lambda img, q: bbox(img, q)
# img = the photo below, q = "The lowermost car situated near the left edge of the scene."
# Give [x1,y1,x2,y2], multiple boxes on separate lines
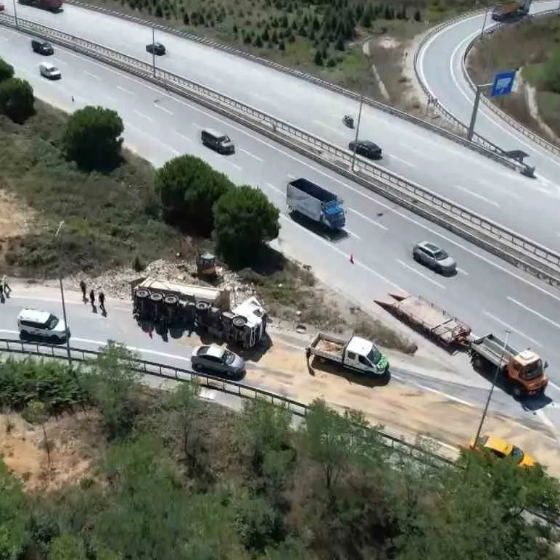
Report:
[14,308,70,342]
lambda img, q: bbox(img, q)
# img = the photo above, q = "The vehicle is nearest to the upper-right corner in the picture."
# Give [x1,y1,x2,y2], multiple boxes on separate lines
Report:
[492,0,529,22]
